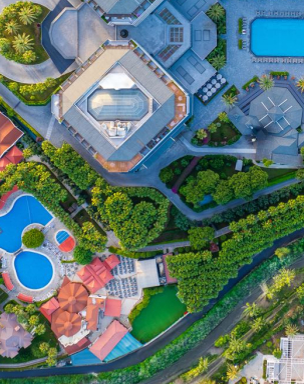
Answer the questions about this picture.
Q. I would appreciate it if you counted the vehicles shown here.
none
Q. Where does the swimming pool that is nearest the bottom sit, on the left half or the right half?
left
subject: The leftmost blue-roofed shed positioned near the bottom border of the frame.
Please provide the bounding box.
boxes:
[71,349,104,366]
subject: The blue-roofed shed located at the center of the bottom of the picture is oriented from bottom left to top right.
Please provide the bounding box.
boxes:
[104,329,144,362]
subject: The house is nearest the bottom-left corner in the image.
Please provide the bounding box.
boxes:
[0,310,39,360]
